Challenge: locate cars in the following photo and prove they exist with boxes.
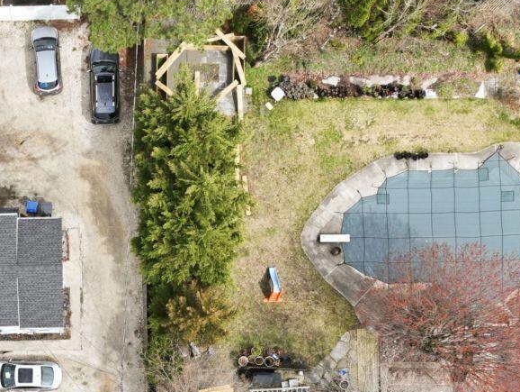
[84,50,123,128]
[28,28,63,100]
[0,357,63,392]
